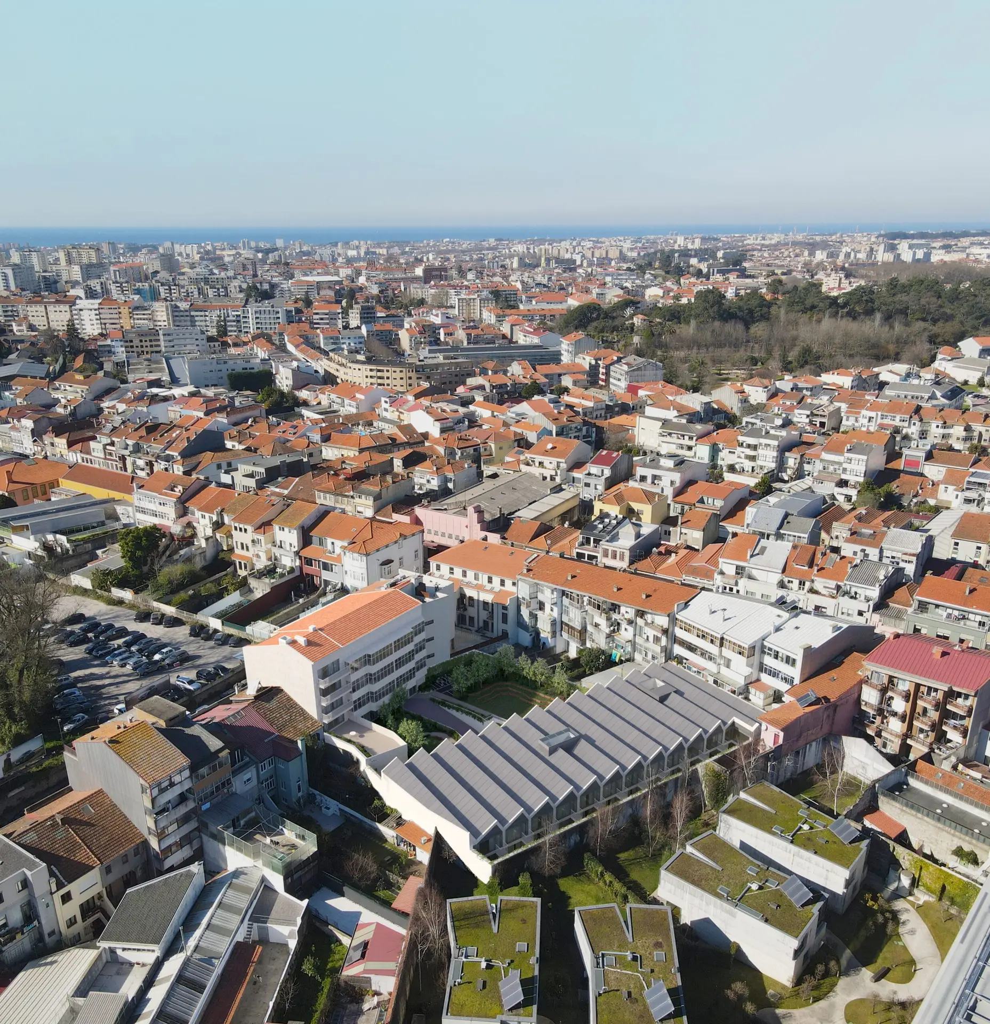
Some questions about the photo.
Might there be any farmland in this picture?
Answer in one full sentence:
No, the scene doesn't show any farmland.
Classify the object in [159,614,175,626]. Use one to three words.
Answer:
vehicle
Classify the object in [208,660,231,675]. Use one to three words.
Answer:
car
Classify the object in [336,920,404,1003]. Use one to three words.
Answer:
shed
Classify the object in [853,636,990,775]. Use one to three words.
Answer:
building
